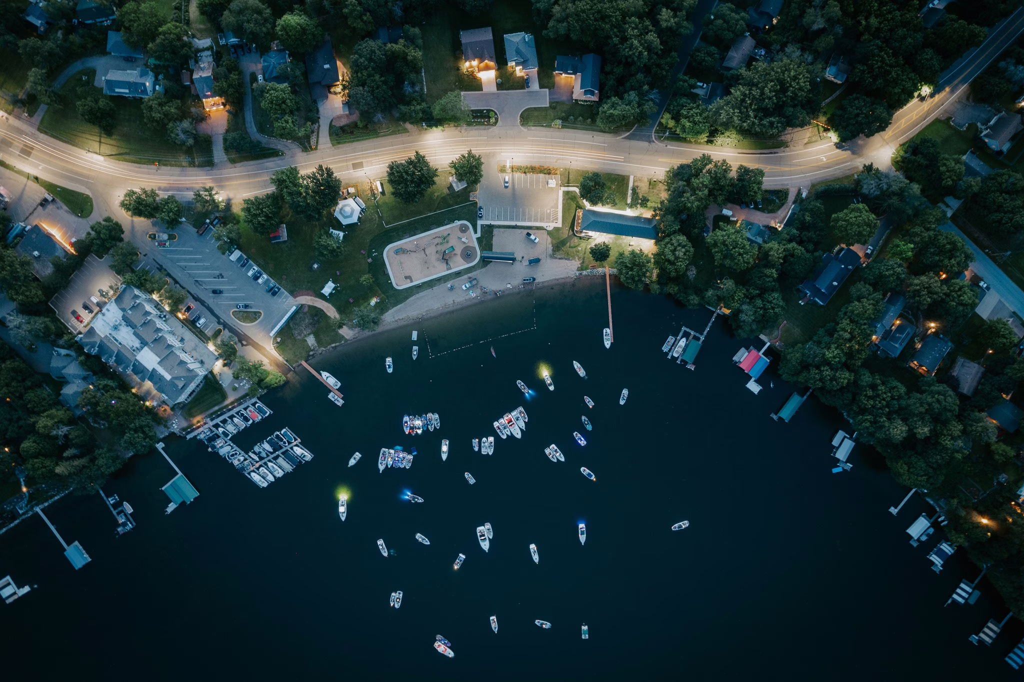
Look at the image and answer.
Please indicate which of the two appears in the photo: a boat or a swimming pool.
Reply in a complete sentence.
Of the two, only a boat appears.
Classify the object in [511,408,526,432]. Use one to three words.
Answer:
boat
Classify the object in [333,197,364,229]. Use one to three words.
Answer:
tent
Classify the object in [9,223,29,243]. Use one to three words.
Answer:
vehicle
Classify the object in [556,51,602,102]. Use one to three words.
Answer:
house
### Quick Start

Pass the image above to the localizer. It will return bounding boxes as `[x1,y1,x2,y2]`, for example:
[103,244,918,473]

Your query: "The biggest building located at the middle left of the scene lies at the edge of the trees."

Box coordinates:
[80,285,224,406]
